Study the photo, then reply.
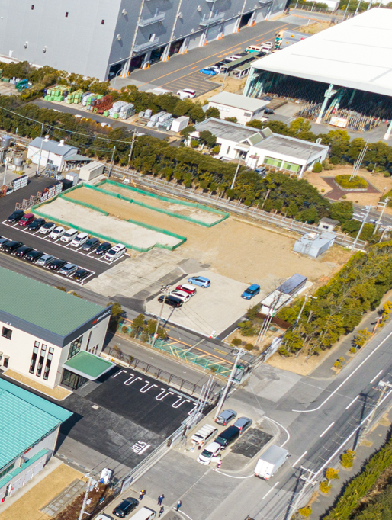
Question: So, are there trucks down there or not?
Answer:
Yes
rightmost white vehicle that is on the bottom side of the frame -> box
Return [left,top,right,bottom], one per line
[250,441,292,480]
